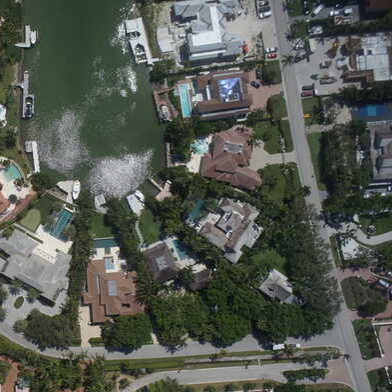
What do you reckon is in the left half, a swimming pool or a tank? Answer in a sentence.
You can see a swimming pool in the left half.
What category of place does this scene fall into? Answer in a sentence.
The area seen from above is a residential area.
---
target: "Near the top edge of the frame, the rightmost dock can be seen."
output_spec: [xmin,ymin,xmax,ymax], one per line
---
[124,17,162,65]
